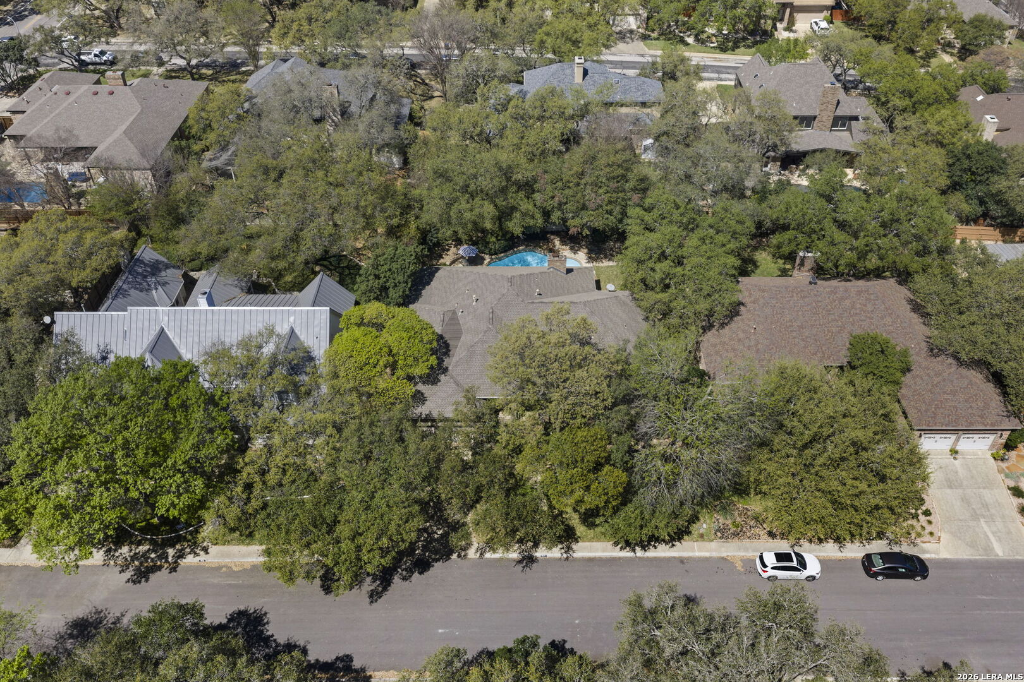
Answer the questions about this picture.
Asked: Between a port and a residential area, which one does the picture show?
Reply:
residential area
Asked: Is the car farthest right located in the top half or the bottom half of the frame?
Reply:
bottom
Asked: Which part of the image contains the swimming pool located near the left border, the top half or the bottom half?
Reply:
top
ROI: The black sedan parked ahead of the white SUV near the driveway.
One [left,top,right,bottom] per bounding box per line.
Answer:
[861,548,932,581]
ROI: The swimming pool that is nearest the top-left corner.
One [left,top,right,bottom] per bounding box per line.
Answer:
[0,181,50,203]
